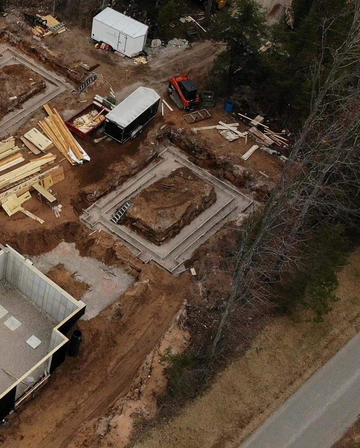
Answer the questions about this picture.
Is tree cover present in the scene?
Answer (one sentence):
Yes, there's tree cover in this view.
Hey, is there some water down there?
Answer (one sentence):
No, there is no water in the image.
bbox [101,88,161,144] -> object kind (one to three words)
trailer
